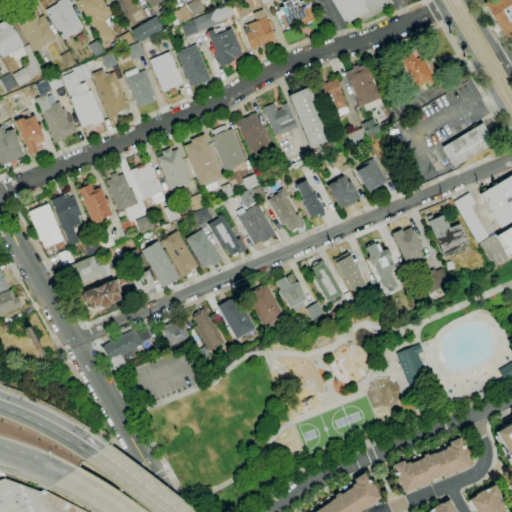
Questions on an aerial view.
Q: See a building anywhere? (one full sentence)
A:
Yes, the photo shows a building.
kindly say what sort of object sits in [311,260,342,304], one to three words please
house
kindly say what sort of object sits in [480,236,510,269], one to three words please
building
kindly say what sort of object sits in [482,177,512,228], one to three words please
building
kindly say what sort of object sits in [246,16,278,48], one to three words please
house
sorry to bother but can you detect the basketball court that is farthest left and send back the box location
[297,414,332,450]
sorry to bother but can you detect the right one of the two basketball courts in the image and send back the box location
[322,396,376,439]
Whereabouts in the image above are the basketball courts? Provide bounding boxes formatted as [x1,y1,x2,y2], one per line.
[297,414,332,450]
[322,396,376,439]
